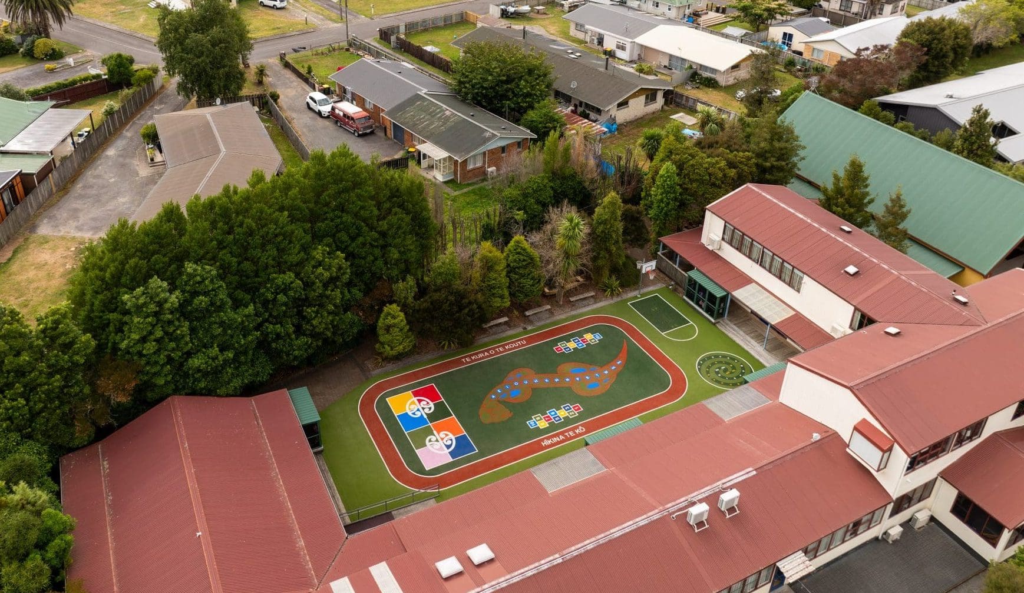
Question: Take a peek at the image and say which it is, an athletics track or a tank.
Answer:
athletics track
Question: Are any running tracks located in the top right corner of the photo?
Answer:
No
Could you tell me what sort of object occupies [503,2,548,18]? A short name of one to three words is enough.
boat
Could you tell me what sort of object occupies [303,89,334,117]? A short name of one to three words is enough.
car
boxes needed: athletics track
[361,313,685,489]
